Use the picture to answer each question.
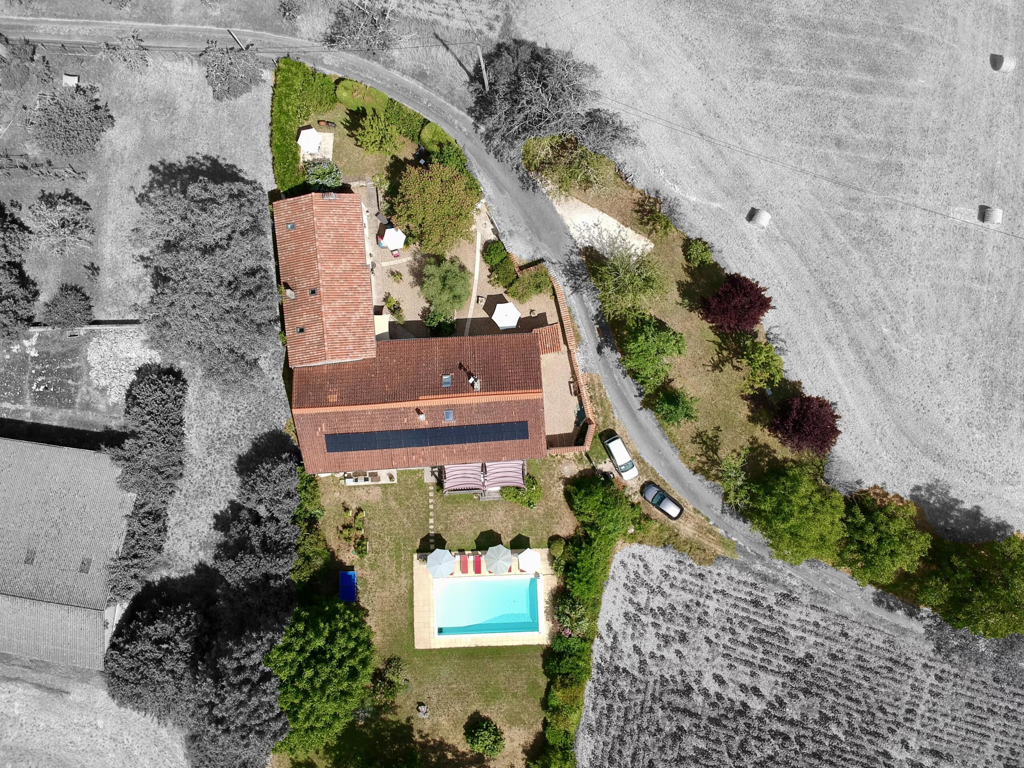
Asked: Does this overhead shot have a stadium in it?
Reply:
No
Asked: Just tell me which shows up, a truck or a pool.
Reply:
pool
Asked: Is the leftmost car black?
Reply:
No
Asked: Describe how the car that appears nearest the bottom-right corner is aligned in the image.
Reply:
at an angle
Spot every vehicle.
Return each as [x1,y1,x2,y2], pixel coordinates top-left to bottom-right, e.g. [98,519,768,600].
[641,481,685,522]
[603,434,639,481]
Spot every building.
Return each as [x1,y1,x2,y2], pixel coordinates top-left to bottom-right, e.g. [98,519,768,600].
[63,72,87,91]
[0,433,159,671]
[292,331,547,475]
